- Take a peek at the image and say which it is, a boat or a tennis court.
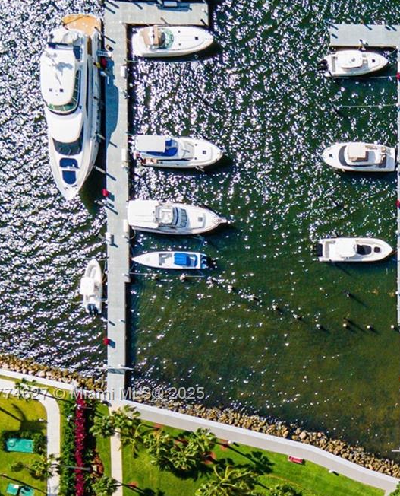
boat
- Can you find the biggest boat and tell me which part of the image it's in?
top left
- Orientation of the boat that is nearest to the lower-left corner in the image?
vertically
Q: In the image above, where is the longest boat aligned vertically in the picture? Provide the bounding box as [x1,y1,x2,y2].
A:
[40,13,104,199]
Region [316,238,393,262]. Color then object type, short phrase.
white boat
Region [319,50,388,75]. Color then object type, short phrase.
white boat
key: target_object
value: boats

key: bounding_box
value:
[133,251,209,269]
[128,200,229,233]
[316,238,393,262]
[132,136,223,167]
[322,142,398,172]
[319,50,388,75]
[81,259,106,313]
[40,13,104,199]
[132,25,214,55]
